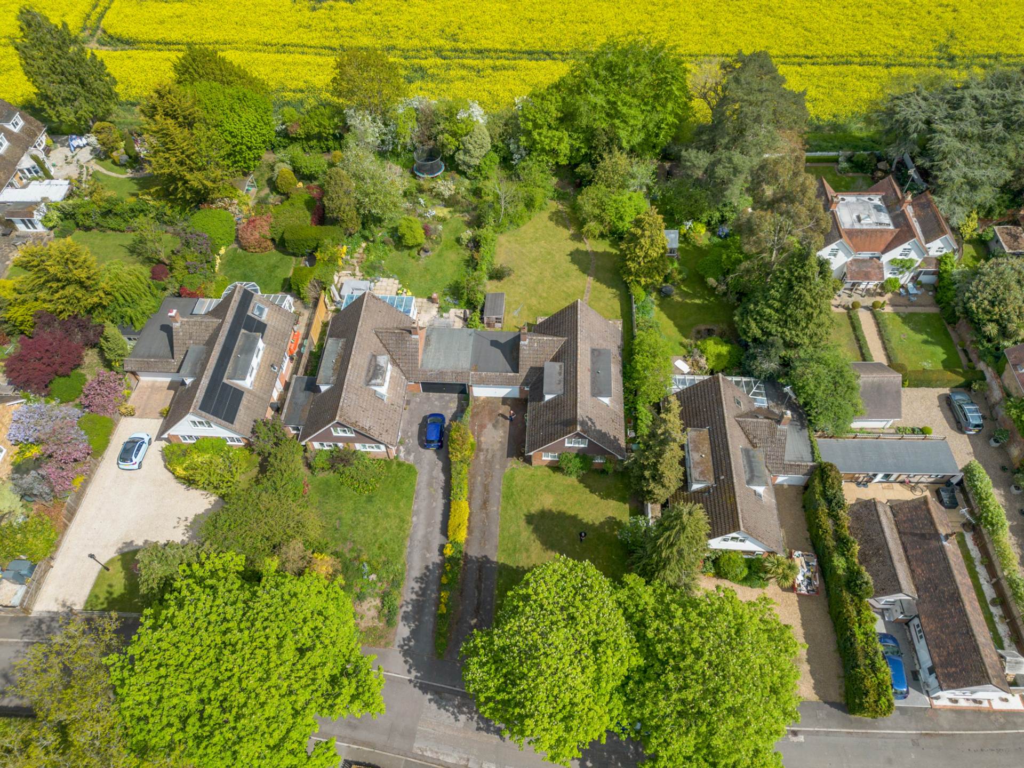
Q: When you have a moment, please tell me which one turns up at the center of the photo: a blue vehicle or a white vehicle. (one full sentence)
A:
What appears at the center of the photo is a blue vehicle.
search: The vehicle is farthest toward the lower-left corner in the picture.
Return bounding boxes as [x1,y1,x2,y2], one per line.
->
[112,427,153,474]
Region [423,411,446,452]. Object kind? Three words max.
car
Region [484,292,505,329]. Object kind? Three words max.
shed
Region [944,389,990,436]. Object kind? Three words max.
car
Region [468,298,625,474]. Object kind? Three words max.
house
